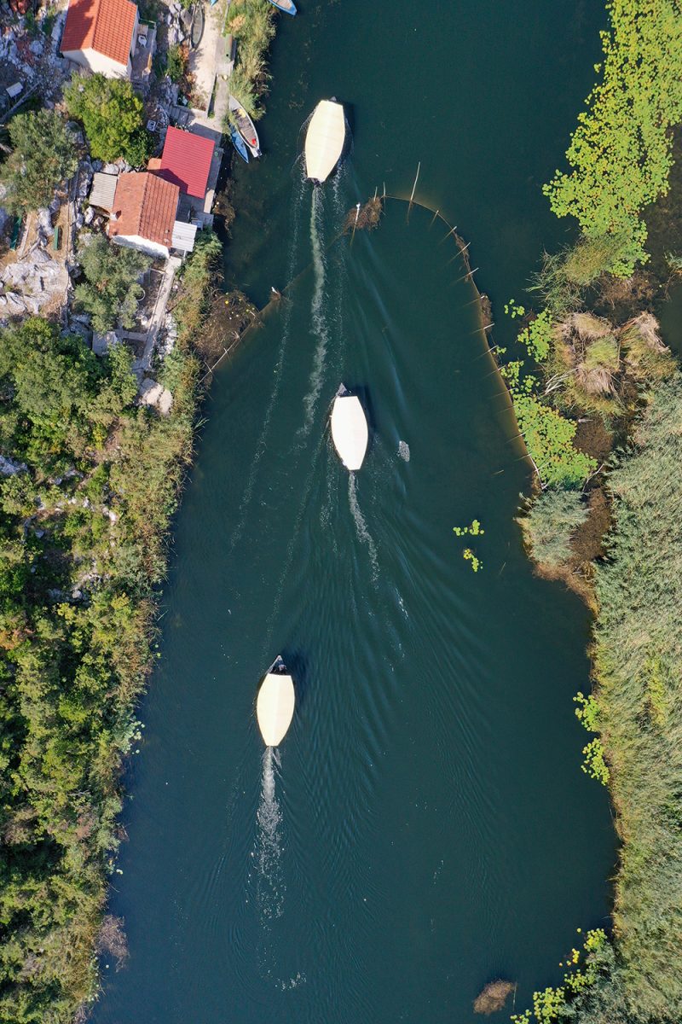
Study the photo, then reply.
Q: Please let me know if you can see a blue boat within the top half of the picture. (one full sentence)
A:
Yes, a blue boat can be seen within the top half of the picture.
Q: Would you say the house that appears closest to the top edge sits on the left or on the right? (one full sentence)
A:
You can find the house that appears closest to the top edge on the left side of the picture.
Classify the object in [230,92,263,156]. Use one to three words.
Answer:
boat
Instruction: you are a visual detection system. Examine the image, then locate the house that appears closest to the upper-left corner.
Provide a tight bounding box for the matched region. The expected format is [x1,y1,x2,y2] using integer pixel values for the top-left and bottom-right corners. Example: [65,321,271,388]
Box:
[60,0,143,81]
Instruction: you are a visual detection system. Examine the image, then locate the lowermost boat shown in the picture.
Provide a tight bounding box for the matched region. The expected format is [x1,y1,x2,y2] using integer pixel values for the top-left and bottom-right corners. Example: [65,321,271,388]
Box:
[257,656,294,746]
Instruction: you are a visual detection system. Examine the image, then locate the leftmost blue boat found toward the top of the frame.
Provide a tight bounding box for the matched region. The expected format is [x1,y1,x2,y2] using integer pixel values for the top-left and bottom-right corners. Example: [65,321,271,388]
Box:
[226,122,248,163]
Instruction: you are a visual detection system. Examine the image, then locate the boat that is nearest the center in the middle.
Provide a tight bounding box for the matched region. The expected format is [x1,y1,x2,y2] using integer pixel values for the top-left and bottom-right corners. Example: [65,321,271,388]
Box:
[328,384,367,475]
